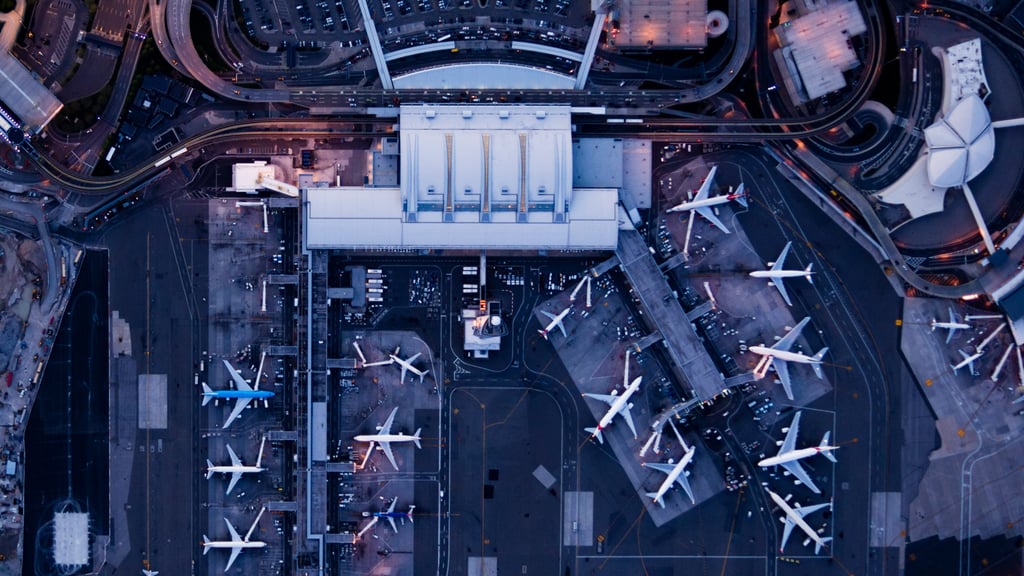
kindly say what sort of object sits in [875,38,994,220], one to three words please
building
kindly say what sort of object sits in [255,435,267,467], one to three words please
jet bridge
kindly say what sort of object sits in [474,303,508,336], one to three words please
building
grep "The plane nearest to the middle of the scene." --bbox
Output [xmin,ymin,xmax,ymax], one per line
[537,308,570,340]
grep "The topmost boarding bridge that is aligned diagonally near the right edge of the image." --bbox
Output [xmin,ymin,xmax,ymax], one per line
[973,323,1004,352]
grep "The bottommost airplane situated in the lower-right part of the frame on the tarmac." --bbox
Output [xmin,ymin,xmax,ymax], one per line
[770,491,835,556]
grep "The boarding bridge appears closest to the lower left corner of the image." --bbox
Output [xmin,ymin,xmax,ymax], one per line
[244,506,267,542]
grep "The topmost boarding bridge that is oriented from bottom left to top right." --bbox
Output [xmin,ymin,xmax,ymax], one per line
[569,274,590,302]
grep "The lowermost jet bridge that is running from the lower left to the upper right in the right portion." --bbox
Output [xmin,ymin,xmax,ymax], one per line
[639,432,657,457]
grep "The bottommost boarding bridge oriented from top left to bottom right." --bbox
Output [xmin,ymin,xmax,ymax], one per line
[668,417,691,450]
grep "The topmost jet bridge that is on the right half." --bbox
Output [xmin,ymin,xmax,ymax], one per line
[684,210,696,251]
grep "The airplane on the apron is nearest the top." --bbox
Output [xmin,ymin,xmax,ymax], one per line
[672,164,747,234]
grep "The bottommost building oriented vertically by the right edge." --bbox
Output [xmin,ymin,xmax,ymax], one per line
[986,265,1024,352]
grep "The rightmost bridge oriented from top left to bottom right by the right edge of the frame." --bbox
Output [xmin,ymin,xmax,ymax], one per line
[798,146,1024,298]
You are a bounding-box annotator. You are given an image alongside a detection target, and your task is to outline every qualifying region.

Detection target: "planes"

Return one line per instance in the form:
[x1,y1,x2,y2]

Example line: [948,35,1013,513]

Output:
[205,444,264,495]
[200,360,274,430]
[582,376,642,443]
[390,354,428,386]
[933,307,969,343]
[770,491,835,556]
[749,240,816,306]
[1013,390,1024,402]
[672,164,747,234]
[952,346,983,377]
[640,447,695,507]
[354,406,421,471]
[373,496,413,534]
[758,411,844,497]
[200,518,267,573]
[749,315,826,402]
[537,308,570,340]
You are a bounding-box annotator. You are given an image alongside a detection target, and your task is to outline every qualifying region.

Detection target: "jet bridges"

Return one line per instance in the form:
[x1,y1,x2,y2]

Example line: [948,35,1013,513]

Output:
[261,280,268,312]
[357,516,379,539]
[973,323,1004,352]
[254,350,267,391]
[586,278,591,307]
[262,205,270,232]
[639,432,657,457]
[244,506,267,542]
[623,347,630,389]
[989,343,1014,381]
[684,210,696,251]
[759,356,773,378]
[255,435,267,467]
[704,281,716,302]
[668,417,691,450]
[569,274,590,302]
[654,432,662,454]
[757,355,769,376]
[360,441,375,470]
[1014,348,1024,390]
[352,340,367,364]
[362,358,394,368]
[964,315,1000,320]
[237,202,268,207]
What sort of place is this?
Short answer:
airport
